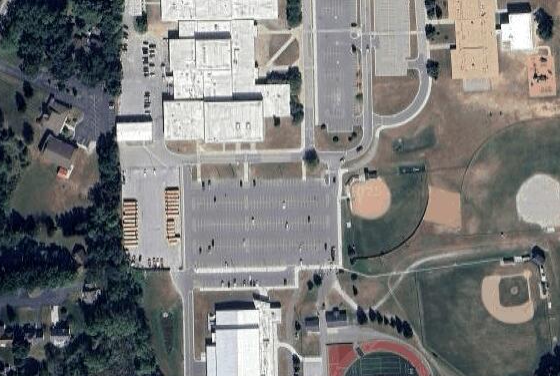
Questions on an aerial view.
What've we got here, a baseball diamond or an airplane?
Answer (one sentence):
This aerial view contains a baseball diamond.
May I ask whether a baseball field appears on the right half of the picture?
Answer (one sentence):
Yes, on the right half of the picture there is a baseball field.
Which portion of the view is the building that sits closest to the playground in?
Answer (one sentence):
Look in the top right portion of the view to spot the building that sits closest to the playground.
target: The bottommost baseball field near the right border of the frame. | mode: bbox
[482,269,534,324]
